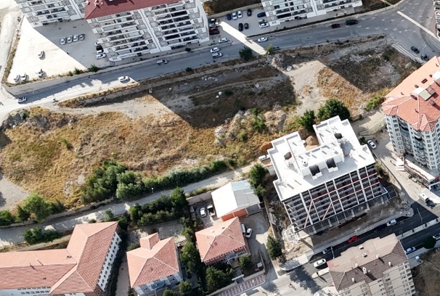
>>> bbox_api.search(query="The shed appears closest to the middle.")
[212,179,262,222]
